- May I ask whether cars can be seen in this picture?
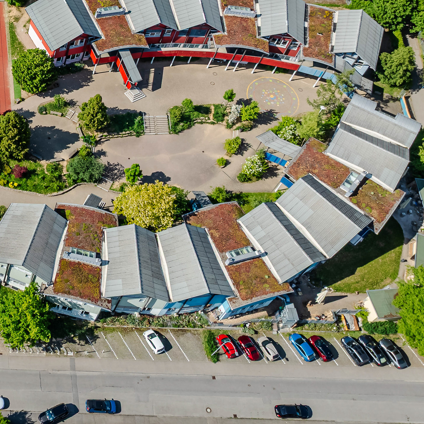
Yes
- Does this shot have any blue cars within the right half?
Yes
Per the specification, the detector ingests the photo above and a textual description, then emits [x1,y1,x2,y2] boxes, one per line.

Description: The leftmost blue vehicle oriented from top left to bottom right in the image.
[288,332,317,364]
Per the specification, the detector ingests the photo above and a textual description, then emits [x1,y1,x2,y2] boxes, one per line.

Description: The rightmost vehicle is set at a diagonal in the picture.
[378,338,409,370]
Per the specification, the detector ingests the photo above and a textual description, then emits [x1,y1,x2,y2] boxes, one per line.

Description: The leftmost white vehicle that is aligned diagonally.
[142,327,166,357]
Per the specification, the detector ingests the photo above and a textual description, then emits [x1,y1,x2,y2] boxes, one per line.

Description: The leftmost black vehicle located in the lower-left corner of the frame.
[36,402,71,424]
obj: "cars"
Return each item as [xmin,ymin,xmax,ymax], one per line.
[256,334,281,364]
[215,332,241,361]
[308,334,334,364]
[341,335,370,367]
[85,398,118,415]
[36,402,71,424]
[288,332,317,364]
[358,335,389,367]
[142,327,166,357]
[378,338,409,370]
[272,401,314,421]
[236,334,261,362]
